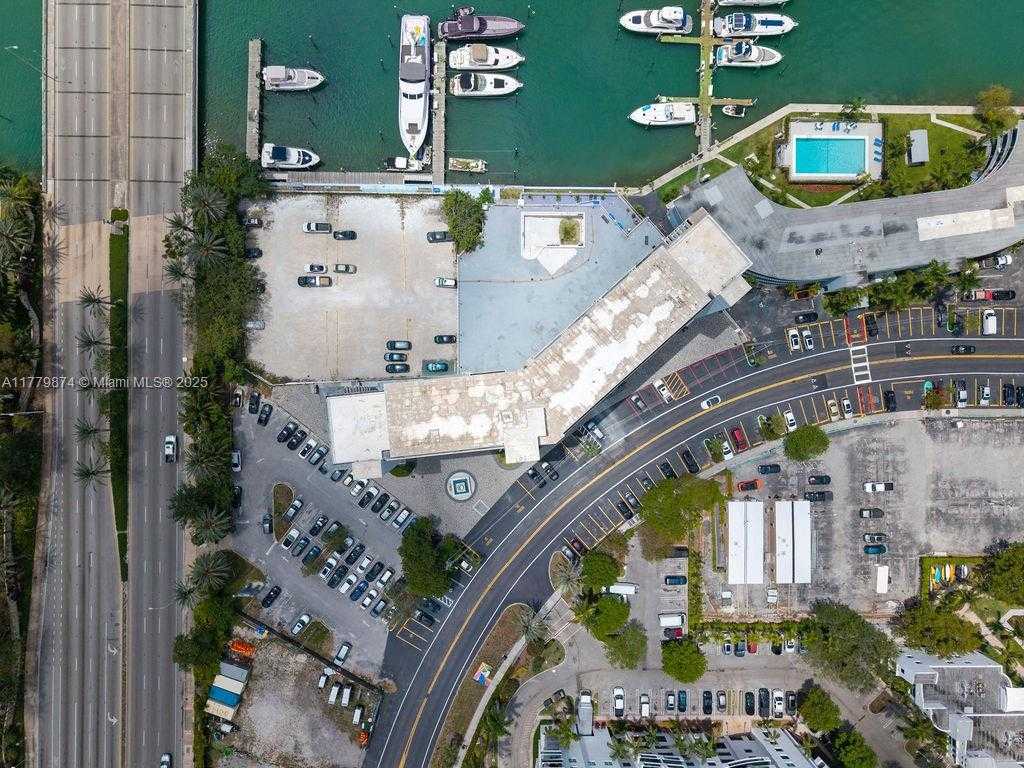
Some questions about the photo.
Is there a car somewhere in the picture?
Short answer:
Yes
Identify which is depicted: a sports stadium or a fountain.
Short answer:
fountain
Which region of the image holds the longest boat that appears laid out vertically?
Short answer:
top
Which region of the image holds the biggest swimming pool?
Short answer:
top right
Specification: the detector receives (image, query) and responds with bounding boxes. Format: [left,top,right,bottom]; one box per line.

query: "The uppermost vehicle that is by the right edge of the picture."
[982,256,1013,269]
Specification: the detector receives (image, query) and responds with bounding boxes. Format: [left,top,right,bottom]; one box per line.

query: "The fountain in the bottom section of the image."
[444,471,475,502]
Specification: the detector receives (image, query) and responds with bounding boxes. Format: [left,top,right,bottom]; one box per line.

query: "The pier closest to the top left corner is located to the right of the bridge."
[245,37,264,163]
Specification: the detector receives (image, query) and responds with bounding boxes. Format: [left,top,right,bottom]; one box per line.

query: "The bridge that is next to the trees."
[41,0,200,180]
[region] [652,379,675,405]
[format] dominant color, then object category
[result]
white truck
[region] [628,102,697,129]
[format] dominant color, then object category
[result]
white boat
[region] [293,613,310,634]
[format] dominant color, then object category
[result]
white car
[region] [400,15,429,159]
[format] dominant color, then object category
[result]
white boat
